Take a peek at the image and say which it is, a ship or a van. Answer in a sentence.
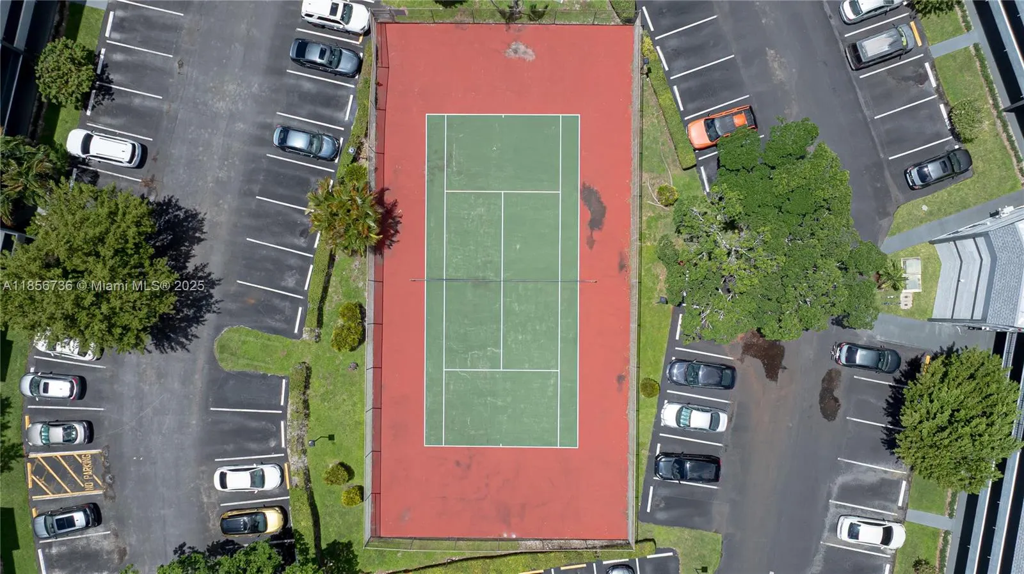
The one in the frame is a van.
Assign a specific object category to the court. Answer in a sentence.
In the photo, the court shows up as a tennis court.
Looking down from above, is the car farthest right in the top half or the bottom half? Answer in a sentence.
The car farthest right is in the top half of the image.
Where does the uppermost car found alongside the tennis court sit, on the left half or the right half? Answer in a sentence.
The uppermost car found alongside the tennis court is on the left side of the image.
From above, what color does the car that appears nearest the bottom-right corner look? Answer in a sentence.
From above, the car that appears nearest the bottom-right corner appears white.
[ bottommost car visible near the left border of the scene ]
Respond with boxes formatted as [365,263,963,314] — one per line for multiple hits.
[34,501,104,541]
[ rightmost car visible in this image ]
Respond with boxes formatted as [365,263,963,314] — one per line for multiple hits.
[901,149,971,189]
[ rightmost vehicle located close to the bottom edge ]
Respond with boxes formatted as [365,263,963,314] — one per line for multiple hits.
[834,514,905,551]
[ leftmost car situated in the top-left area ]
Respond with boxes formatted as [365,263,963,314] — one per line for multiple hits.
[68,128,144,169]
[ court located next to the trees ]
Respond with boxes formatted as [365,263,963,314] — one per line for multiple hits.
[372,21,634,541]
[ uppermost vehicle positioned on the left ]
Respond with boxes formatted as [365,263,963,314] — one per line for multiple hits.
[299,0,370,34]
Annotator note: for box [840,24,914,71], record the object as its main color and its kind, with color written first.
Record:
gray van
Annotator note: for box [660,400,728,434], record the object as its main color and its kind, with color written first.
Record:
white car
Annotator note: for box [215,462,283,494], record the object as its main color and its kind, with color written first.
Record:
white car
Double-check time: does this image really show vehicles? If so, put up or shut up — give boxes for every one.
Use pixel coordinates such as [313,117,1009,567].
[835,0,904,24]
[666,358,735,391]
[299,0,370,34]
[34,501,104,541]
[901,149,971,189]
[833,342,900,375]
[27,419,92,450]
[834,514,905,551]
[215,462,283,494]
[654,450,721,486]
[273,124,340,162]
[606,562,632,574]
[685,103,761,150]
[220,504,285,538]
[68,128,144,169]
[20,371,84,402]
[291,38,360,77]
[840,24,914,71]
[660,400,728,434]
